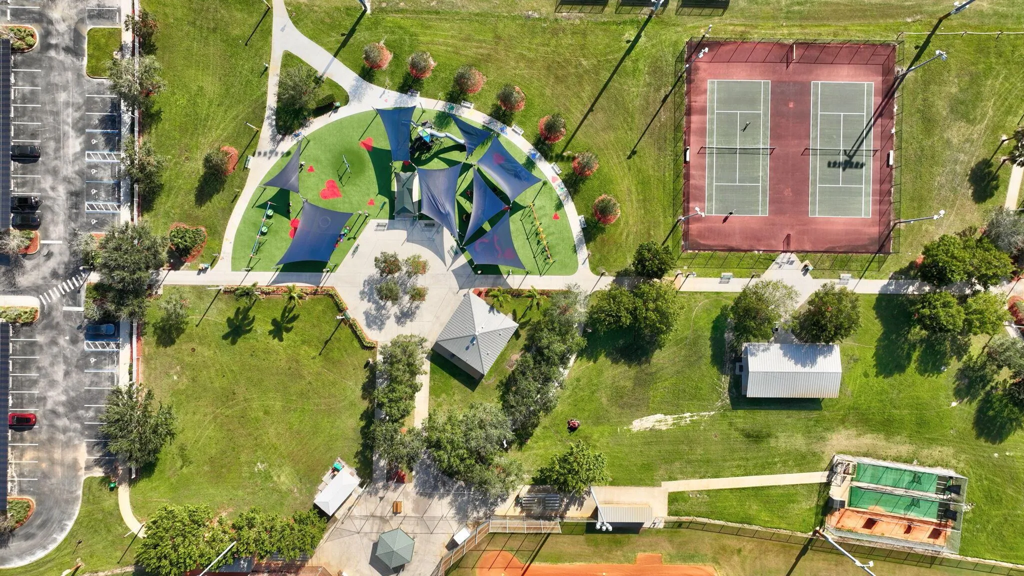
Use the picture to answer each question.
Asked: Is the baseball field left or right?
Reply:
right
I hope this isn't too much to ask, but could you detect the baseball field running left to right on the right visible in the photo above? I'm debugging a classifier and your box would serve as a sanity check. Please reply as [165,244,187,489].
[434,518,1024,576]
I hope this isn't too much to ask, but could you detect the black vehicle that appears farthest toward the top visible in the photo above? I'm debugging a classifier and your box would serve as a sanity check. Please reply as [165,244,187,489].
[14,144,43,157]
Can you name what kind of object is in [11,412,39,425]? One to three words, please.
vehicle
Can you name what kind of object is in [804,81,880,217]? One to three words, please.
tennis court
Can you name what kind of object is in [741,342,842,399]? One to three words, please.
building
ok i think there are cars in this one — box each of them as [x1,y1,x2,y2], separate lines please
[11,412,39,425]
[12,195,41,207]
[15,214,41,226]
[86,323,115,336]
[14,144,43,157]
